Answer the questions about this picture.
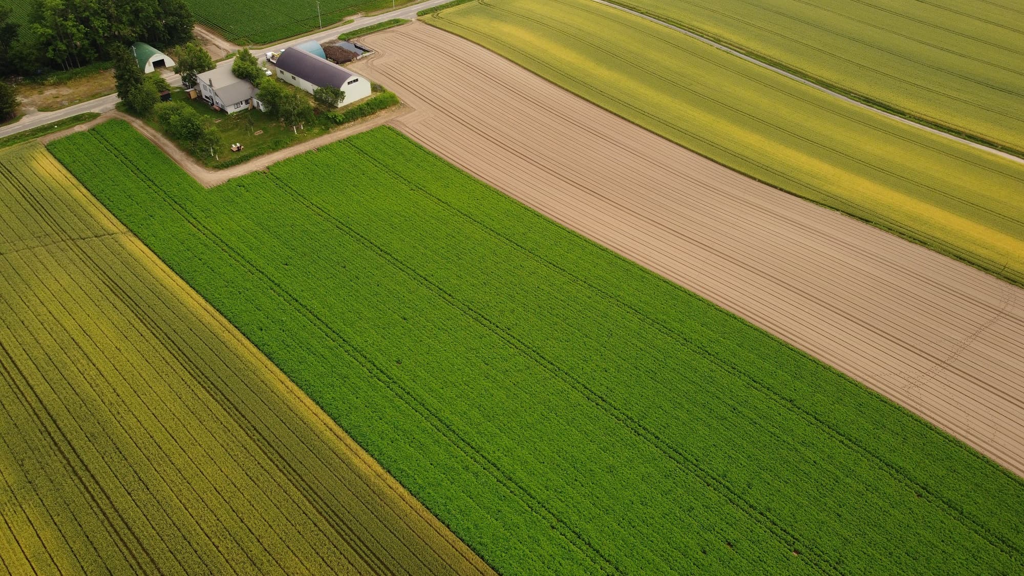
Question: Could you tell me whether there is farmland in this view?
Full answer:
Yes, there is farmland in the image.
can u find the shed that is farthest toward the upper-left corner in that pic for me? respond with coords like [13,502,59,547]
[125,40,176,73]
